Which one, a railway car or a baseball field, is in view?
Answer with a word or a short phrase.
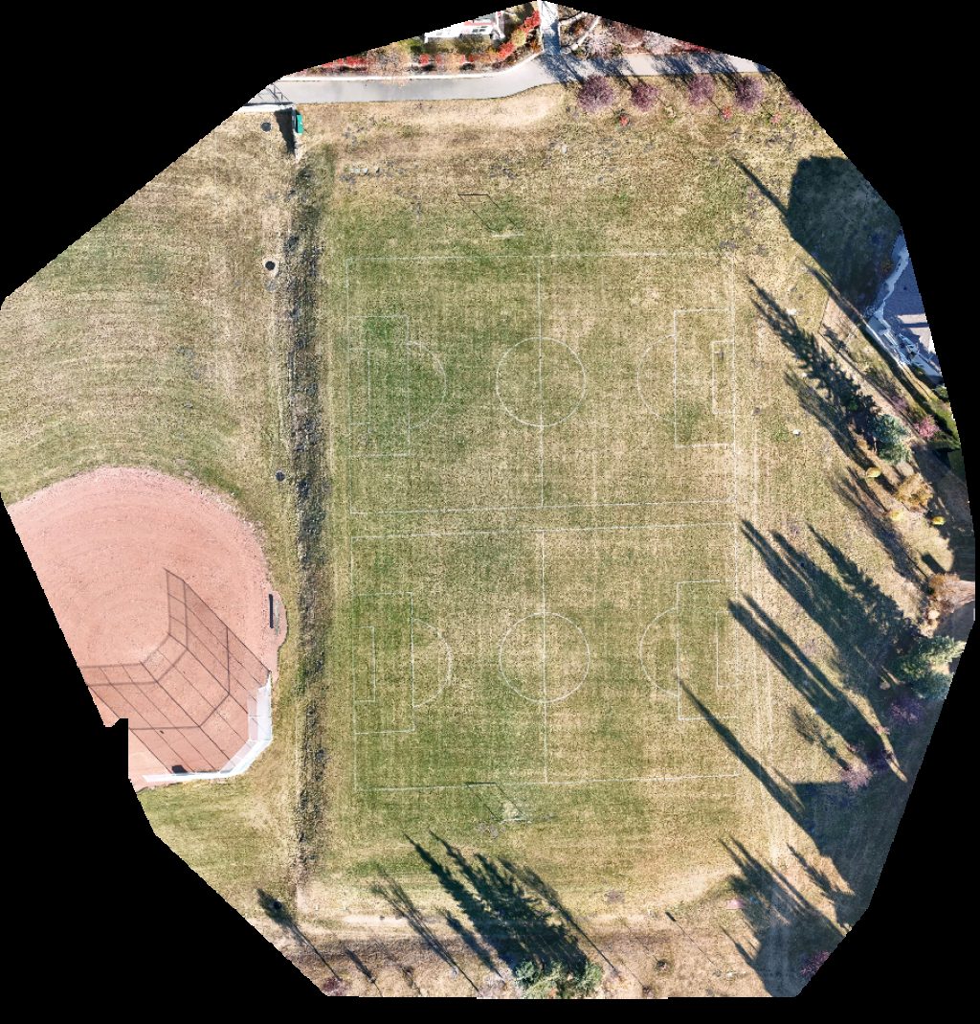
baseball field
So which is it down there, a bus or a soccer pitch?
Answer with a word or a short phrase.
soccer pitch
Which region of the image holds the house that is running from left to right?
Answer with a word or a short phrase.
top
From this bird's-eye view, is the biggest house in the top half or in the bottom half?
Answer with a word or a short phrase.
top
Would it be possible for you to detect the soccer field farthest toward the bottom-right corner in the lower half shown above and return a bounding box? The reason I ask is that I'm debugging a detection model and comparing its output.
[349,521,742,793]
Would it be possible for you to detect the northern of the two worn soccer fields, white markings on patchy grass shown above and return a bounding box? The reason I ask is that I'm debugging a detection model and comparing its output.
[344,250,739,516]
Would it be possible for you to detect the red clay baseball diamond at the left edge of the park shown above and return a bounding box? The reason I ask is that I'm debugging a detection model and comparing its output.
[7,467,287,791]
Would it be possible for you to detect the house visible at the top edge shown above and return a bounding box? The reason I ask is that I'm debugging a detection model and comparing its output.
[422,11,507,41]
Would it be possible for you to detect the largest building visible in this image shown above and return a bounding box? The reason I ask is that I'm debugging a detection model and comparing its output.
[862,238,944,375]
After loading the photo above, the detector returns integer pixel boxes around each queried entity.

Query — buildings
[862,238,944,375]
[422,11,507,41]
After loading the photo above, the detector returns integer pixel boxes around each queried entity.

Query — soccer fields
[349,521,742,793]
[344,250,739,516]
